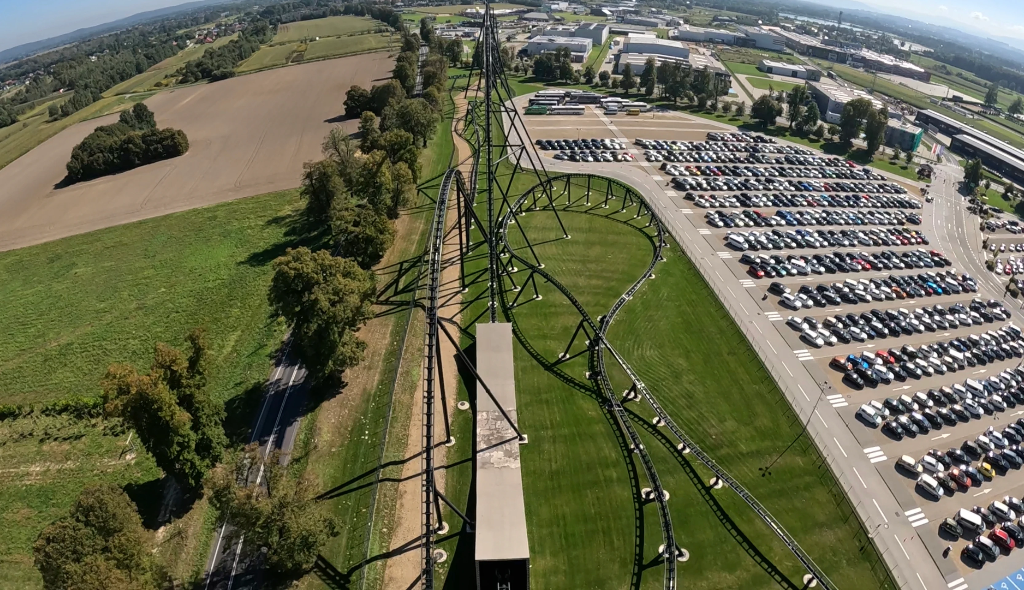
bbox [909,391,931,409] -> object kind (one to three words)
car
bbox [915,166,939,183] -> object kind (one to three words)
gazebo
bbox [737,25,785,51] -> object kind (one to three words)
building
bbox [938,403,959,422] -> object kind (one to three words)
car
